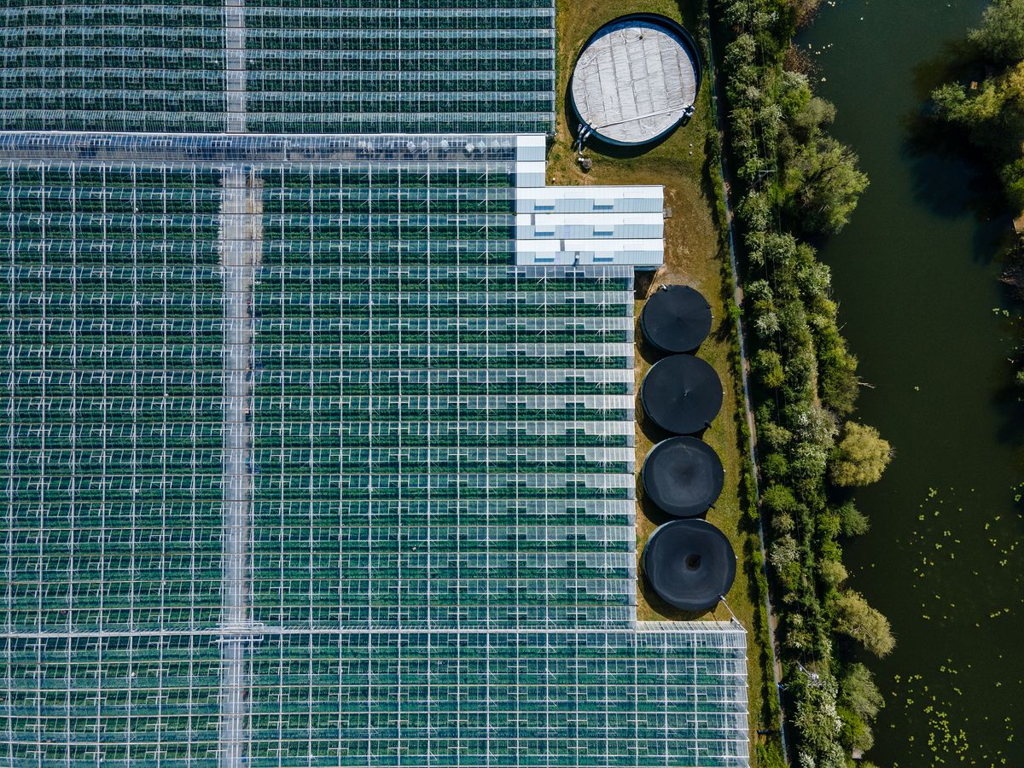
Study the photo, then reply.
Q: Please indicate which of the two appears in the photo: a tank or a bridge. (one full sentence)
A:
Of the two, only a tank appears.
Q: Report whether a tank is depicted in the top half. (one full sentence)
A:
Yes, a tank shows up in the top half.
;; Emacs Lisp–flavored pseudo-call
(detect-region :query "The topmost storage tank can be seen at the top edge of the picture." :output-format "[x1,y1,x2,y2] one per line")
[570,15,702,152]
